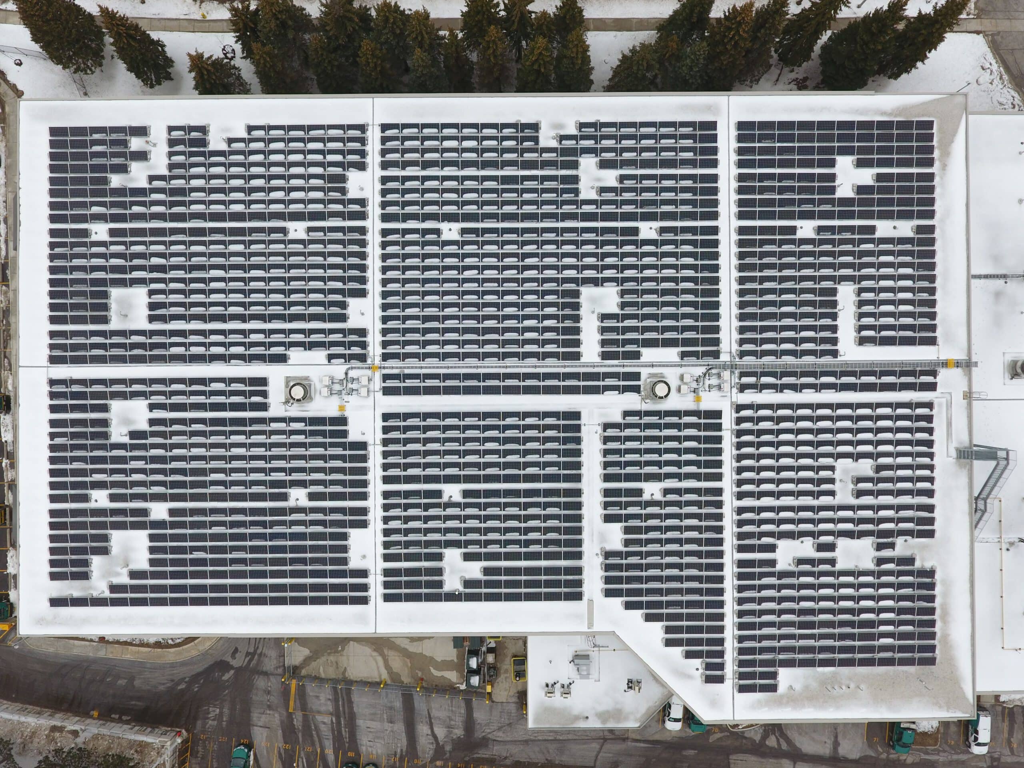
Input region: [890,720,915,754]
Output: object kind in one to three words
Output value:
truck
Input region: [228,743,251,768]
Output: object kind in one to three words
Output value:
car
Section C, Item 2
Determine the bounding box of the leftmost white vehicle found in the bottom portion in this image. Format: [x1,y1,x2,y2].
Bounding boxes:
[665,695,686,731]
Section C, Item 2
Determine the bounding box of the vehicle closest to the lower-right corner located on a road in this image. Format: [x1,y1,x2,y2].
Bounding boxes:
[967,699,994,755]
